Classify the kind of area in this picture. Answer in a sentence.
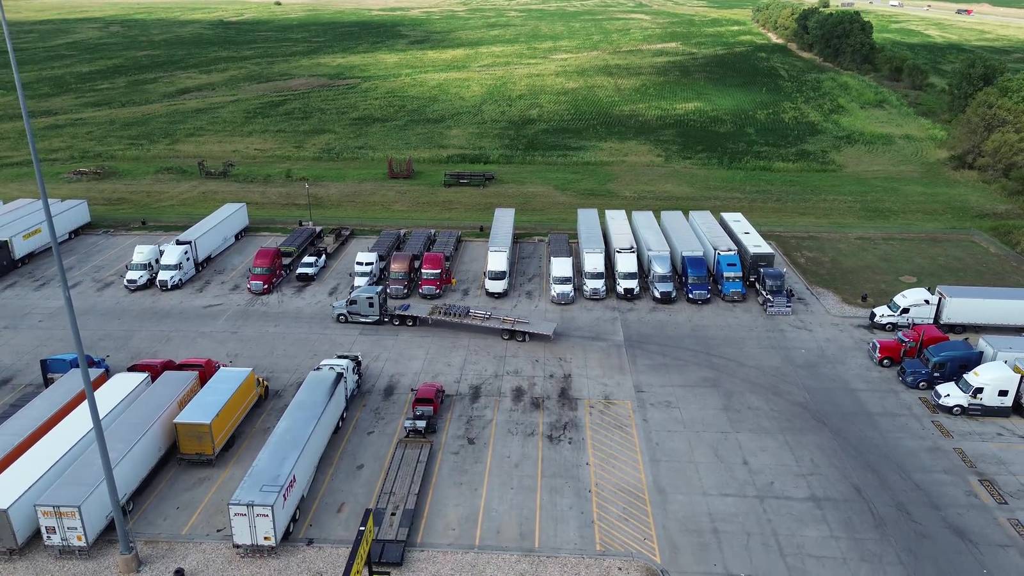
The picture captures a parking lot.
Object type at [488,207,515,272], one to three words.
trailer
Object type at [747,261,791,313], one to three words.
truck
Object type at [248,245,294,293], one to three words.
truck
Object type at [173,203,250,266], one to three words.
trailer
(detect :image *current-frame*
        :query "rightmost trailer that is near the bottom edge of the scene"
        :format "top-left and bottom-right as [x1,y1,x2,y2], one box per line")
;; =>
[363,412,433,567]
